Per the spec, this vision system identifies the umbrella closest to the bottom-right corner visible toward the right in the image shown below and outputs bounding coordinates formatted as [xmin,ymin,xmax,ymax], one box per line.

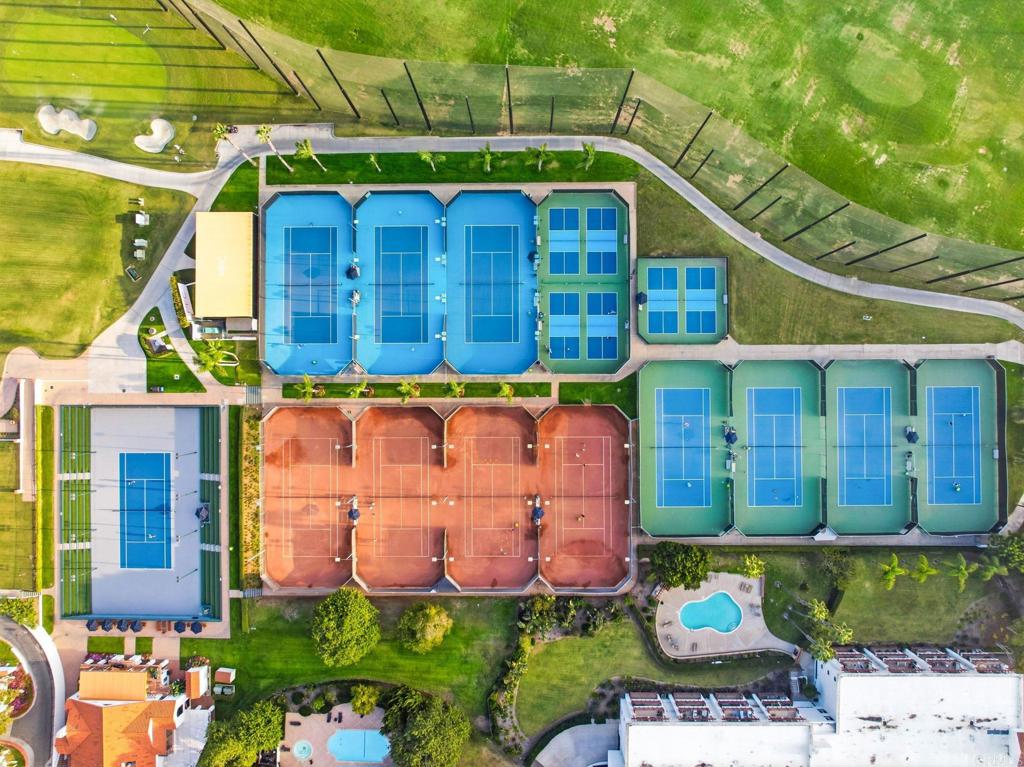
[904,430,918,443]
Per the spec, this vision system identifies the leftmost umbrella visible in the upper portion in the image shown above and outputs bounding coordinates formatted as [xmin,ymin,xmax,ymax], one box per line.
[346,266,360,280]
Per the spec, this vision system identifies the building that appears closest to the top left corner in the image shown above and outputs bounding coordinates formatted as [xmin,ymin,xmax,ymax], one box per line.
[195,212,260,317]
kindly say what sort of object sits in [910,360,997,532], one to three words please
tennis court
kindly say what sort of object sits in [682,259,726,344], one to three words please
sports court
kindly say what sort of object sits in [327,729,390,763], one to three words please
swimming pool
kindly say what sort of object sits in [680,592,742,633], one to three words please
swimming pool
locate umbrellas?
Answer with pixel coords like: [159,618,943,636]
[635,292,648,304]
[348,508,360,520]
[531,506,544,519]
[526,252,536,262]
[117,621,131,630]
[191,621,204,632]
[132,621,144,631]
[724,431,737,444]
[346,266,360,280]
[102,621,116,631]
[86,621,100,630]
[174,621,188,632]
[904,430,918,443]
[195,506,210,520]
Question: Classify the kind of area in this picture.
sports ground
